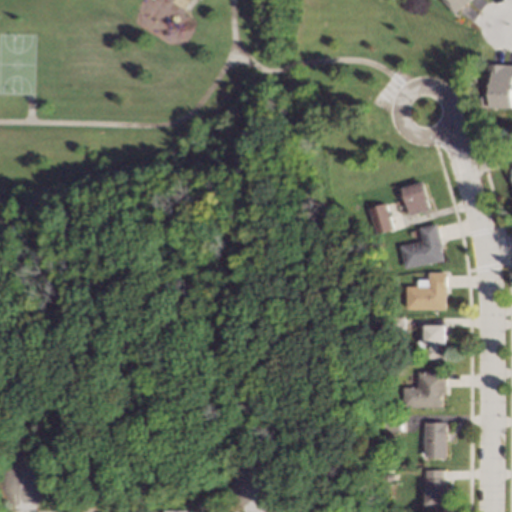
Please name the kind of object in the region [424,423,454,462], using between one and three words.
house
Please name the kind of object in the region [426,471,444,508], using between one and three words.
house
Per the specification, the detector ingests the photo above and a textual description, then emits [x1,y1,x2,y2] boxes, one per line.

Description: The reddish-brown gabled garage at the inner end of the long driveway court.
[370,204,394,234]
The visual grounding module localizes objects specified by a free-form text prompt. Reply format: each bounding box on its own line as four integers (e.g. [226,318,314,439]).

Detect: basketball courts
[0,32,38,96]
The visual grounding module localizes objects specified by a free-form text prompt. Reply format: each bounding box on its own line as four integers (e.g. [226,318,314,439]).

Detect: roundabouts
[390,77,458,146]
